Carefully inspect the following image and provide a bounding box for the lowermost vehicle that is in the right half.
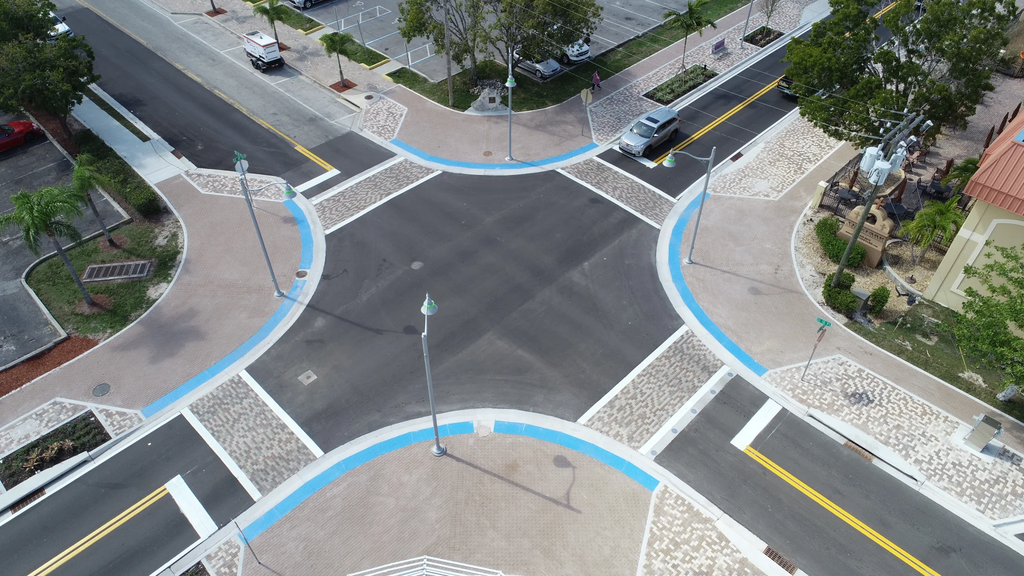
[618,106,683,159]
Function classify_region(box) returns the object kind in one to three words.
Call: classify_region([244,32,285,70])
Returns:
trailer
